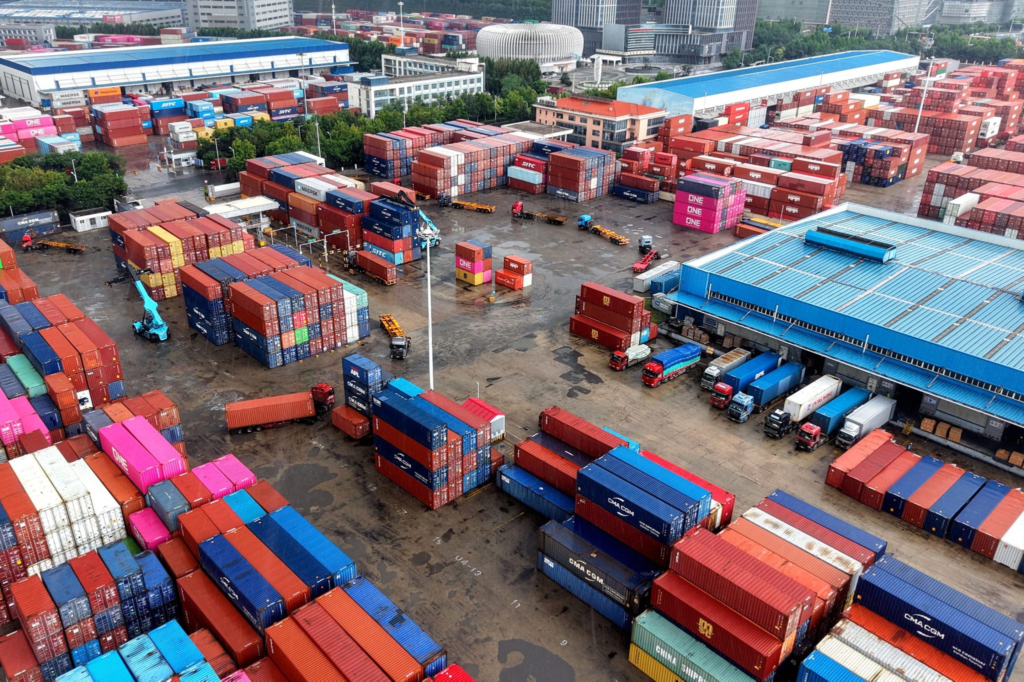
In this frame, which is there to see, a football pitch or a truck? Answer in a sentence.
There is a truck in the scene.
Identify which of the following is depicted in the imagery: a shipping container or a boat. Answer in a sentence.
I can see a shipping container in this picture.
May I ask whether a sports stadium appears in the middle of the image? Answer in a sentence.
No, looking in the middle of the image, there is no sports stadium.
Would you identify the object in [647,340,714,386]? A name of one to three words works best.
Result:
truck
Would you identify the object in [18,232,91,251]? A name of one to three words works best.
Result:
vehicle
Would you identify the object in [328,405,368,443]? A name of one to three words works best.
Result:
shipping container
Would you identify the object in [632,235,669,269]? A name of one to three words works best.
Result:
truck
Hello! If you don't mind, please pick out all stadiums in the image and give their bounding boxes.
[471,17,587,64]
